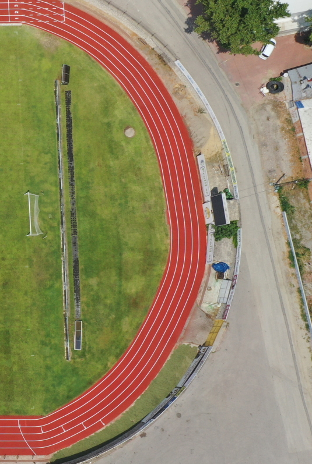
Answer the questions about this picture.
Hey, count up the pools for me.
zero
